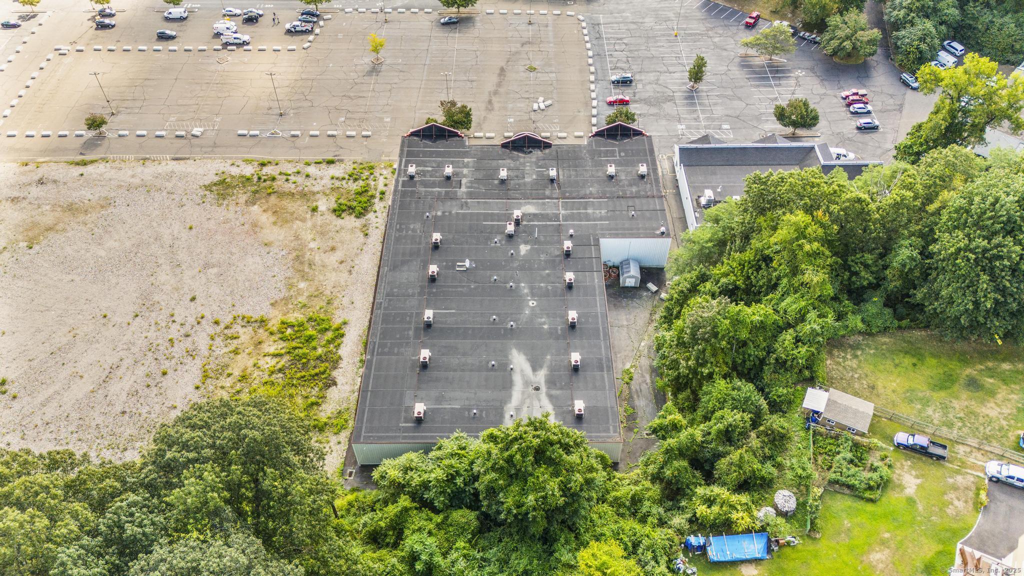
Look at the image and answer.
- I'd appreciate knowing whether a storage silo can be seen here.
No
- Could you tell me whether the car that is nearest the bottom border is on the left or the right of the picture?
right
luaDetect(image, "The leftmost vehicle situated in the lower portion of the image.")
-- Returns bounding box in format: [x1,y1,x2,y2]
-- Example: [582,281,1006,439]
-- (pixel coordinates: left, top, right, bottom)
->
[895,433,948,460]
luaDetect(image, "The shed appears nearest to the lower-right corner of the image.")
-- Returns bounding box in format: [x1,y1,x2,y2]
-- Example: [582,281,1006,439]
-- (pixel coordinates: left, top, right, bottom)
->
[821,389,874,439]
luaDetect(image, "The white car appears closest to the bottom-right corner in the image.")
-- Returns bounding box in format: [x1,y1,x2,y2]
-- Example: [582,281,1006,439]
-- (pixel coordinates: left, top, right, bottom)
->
[983,460,1024,487]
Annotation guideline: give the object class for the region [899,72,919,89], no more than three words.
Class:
car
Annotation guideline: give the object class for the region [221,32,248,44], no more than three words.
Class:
vehicle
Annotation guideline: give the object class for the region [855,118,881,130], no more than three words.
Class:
vehicle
